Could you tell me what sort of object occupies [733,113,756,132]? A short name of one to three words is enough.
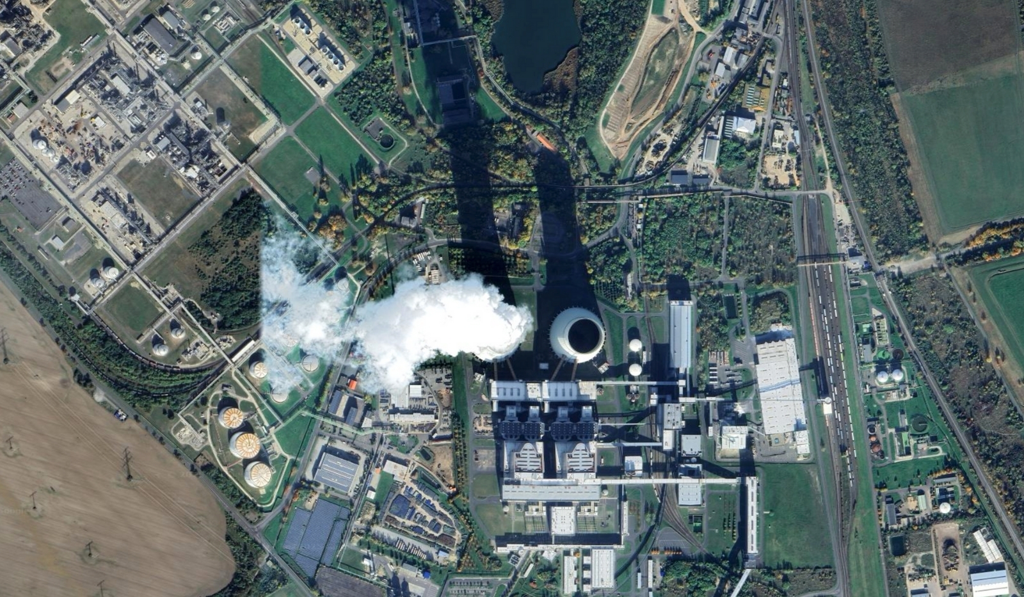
building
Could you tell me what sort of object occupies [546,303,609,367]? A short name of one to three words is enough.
cooling tower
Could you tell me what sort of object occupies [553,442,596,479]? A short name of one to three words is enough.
building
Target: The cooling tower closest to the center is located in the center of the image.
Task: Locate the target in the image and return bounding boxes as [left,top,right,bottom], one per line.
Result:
[465,302,528,365]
